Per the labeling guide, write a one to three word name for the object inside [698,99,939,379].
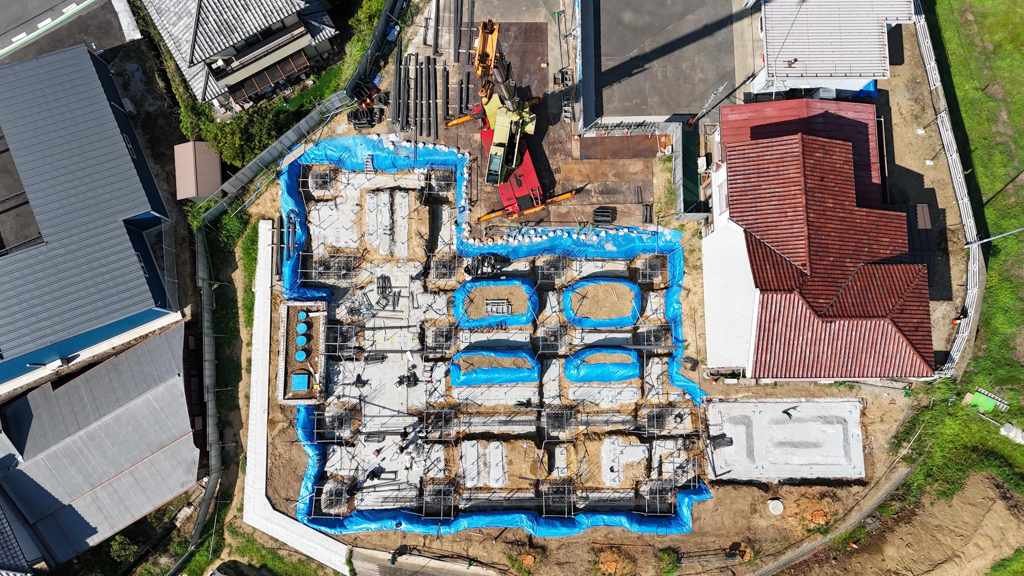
house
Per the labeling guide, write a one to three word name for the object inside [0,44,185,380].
building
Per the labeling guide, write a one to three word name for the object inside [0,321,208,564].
building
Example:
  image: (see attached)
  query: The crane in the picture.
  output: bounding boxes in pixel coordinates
[443,21,576,227]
